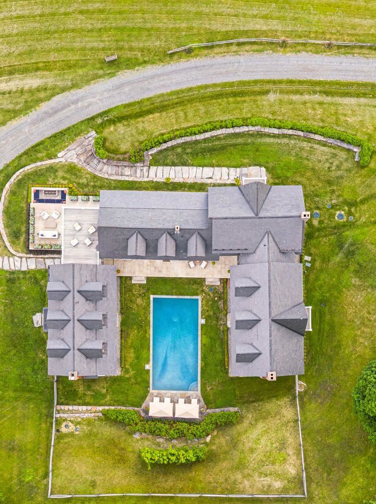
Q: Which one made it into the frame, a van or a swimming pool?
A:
swimming pool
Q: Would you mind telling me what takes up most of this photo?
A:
grass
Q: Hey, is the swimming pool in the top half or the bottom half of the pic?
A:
bottom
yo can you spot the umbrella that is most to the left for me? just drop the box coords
[149,402,173,417]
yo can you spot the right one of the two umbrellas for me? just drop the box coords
[175,404,199,419]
